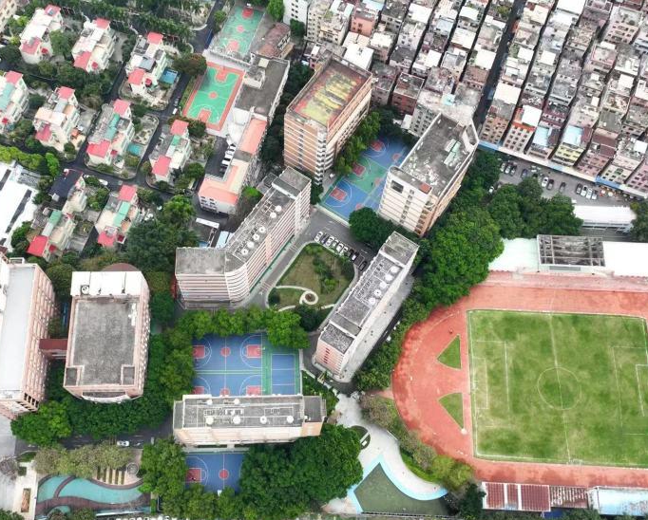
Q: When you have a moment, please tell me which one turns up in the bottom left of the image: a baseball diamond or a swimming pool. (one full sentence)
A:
It is a swimming pool that can be seen in the bottom left of the image.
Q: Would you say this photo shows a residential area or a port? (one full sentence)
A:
This image shows a residential area.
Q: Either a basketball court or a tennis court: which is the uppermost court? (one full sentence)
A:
It looks like the uppermost court is a basketball court.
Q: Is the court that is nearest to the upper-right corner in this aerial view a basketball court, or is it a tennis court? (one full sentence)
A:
The court that is nearest to the upper-right corner can be classified as a basketball court.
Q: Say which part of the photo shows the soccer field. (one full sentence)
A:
Look in the bottom right portion of the view to spot the soccer field.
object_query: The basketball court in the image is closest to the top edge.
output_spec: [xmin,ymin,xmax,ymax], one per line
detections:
[209,4,262,57]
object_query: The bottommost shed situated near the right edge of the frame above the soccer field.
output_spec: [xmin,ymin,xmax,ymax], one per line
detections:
[573,205,635,233]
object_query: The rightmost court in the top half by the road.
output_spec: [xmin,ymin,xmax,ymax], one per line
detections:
[314,121,418,228]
